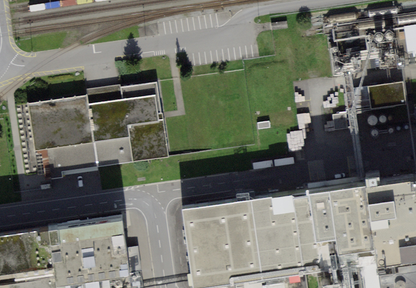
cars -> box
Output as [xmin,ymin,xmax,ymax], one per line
[334,172,346,178]
[78,176,84,188]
